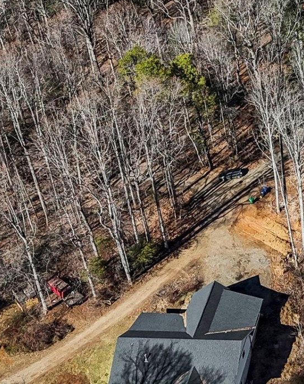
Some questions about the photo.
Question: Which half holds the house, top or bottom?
bottom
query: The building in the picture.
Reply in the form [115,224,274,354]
[105,280,263,384]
